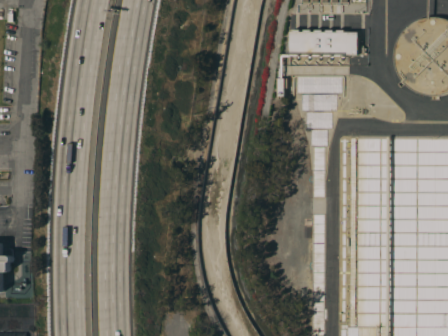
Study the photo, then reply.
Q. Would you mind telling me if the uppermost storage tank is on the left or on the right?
right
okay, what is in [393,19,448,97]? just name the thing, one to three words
storage tank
